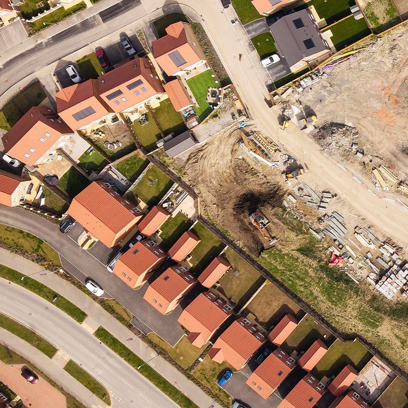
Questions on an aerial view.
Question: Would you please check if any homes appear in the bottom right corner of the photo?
Yes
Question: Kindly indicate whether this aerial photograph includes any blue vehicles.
Yes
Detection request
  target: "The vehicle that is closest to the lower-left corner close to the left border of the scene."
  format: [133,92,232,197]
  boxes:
[20,367,40,386]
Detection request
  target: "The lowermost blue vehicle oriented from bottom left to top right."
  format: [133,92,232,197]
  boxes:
[215,370,234,388]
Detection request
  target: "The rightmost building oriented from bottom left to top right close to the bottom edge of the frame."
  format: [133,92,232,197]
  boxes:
[327,364,359,397]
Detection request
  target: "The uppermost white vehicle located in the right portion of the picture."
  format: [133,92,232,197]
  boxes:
[260,54,281,68]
